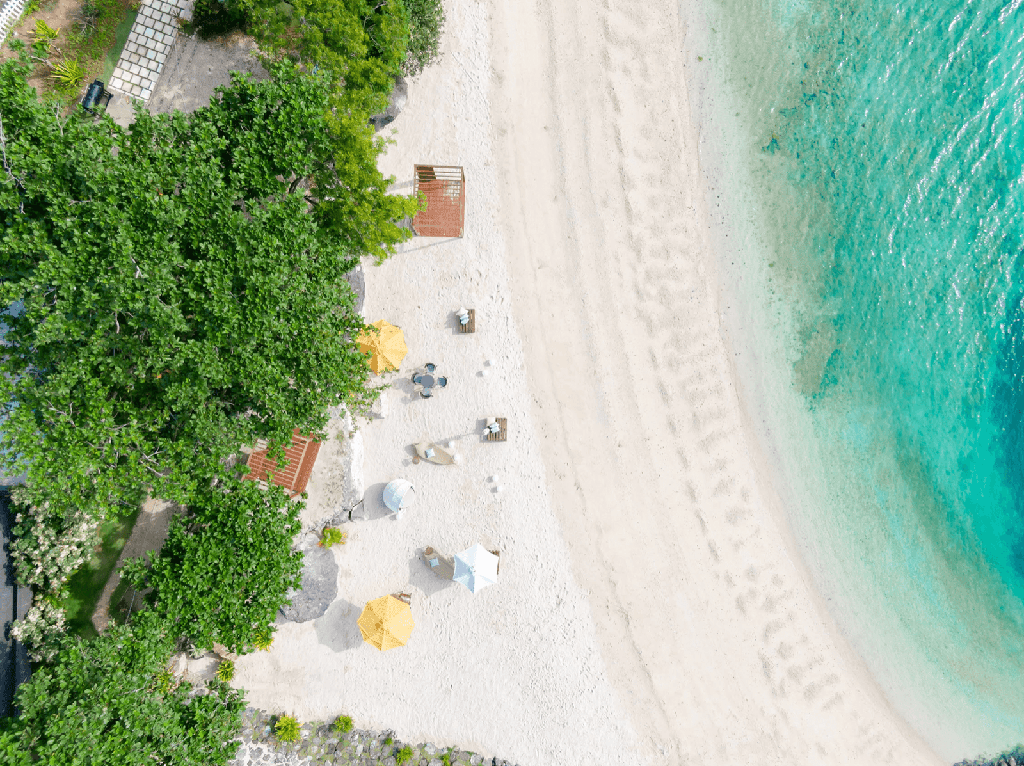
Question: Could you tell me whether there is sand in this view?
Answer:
Yes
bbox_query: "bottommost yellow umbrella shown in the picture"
[357,593,415,652]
